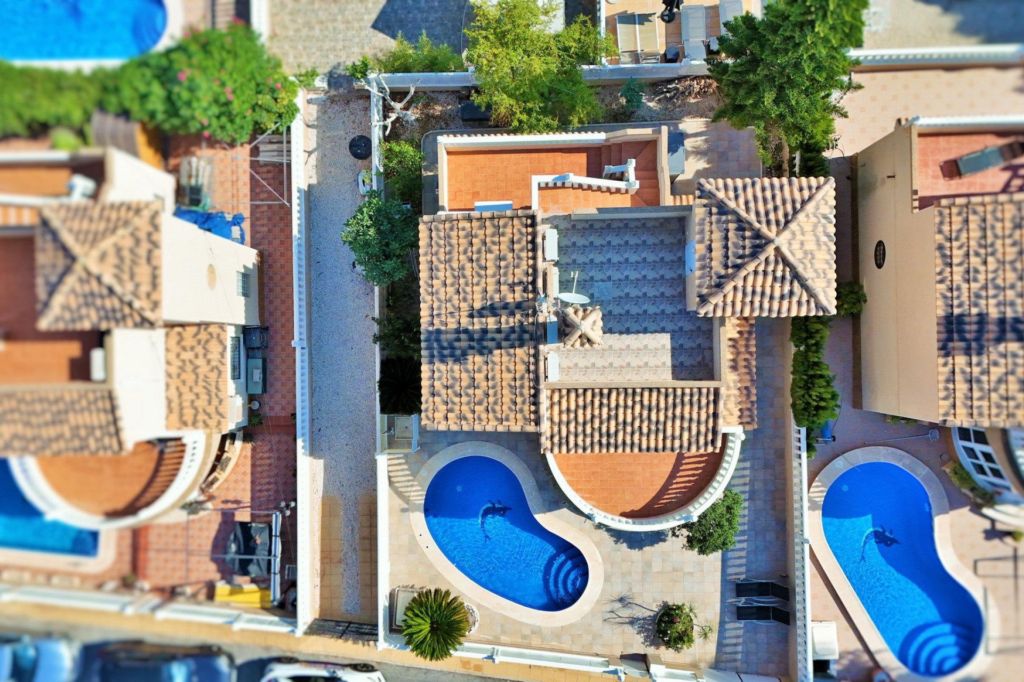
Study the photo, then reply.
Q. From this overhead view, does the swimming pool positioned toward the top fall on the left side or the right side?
left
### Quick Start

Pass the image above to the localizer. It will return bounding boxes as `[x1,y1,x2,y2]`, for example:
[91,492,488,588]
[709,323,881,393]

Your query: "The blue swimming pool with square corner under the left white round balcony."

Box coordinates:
[0,455,113,572]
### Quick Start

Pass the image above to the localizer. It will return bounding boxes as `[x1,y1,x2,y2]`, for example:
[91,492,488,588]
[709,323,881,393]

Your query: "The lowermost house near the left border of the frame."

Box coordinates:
[0,147,259,540]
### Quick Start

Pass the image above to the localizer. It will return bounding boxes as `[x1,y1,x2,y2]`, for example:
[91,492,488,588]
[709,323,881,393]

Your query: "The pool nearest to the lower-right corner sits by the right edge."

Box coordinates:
[809,447,1001,682]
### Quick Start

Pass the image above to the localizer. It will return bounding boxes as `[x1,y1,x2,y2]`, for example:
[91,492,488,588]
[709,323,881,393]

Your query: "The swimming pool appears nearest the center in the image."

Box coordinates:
[409,441,604,627]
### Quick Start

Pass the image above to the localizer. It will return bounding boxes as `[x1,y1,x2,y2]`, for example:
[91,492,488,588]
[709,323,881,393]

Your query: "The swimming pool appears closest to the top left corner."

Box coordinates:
[0,0,181,75]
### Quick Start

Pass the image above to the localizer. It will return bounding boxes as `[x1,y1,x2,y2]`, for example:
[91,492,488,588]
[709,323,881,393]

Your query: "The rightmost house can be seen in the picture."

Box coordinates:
[855,122,1024,527]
